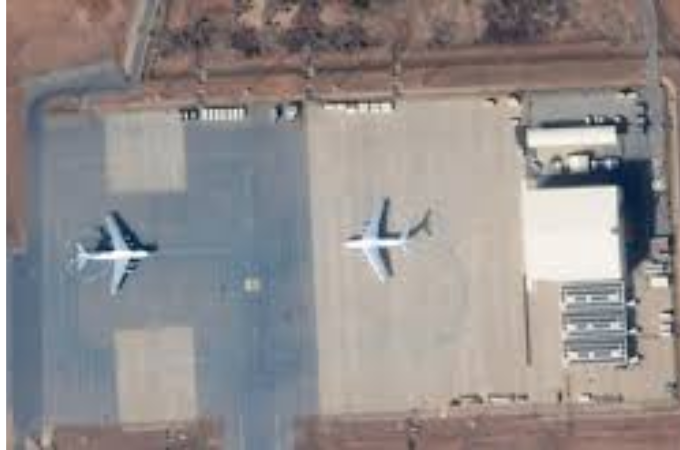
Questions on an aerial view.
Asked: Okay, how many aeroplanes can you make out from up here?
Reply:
2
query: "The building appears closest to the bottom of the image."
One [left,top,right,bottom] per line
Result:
[562,336,640,364]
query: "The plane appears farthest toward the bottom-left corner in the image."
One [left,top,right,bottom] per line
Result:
[75,215,149,295]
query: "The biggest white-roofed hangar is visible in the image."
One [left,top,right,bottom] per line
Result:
[525,184,625,283]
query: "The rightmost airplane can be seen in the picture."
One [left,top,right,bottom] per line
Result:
[340,203,408,282]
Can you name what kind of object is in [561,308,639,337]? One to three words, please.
building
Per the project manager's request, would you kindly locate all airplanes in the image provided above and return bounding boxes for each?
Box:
[340,203,408,282]
[75,215,149,295]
